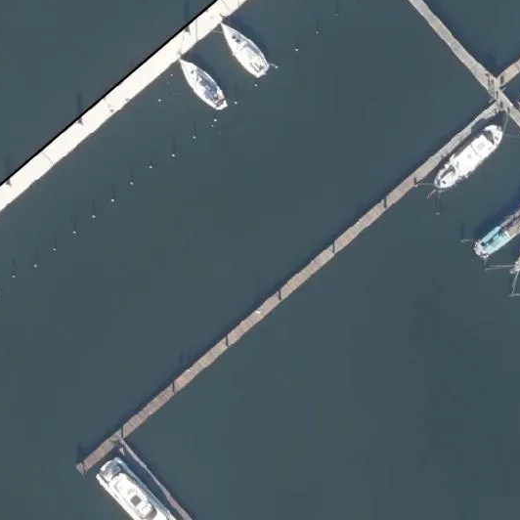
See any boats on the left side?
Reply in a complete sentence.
Yes, looking on the left side, one can make out a boat.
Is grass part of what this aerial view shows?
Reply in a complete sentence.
No, the picture contains no grass.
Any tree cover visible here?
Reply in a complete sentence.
No, the picture contains no tree cover.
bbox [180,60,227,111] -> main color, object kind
white boat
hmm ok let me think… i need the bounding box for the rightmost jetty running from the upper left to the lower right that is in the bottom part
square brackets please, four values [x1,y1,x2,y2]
[121,441,195,520]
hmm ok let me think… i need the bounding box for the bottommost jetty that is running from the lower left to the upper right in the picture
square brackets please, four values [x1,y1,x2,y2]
[81,127,468,470]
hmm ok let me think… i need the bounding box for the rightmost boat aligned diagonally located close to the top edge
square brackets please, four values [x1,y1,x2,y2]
[221,23,270,77]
